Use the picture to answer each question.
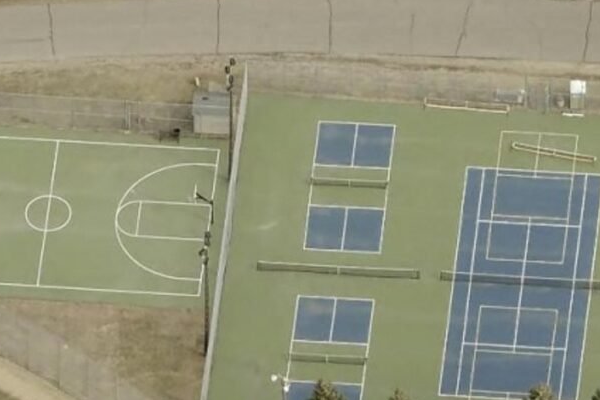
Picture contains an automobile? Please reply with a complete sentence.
No, I can't see a single automobile in this photo.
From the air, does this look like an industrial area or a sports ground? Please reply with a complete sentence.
The area seen from above is a sports ground.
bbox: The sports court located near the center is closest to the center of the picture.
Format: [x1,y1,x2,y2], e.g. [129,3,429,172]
[304,121,395,253]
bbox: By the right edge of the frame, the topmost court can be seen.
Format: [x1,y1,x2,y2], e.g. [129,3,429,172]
[486,131,578,263]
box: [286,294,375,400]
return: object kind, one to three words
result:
sports court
